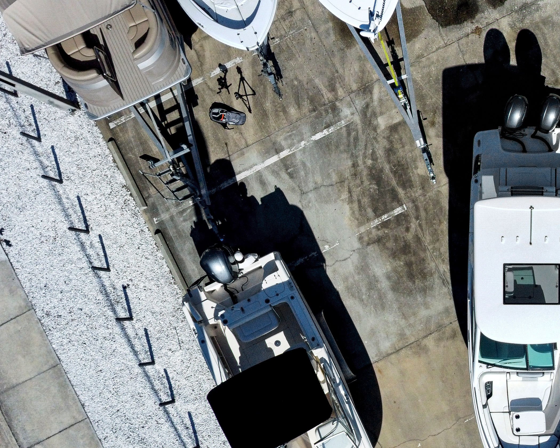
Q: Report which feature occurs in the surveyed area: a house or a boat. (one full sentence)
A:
The image shows a boat.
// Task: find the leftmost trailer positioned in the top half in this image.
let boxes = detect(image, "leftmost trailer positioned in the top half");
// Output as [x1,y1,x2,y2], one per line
[129,85,229,242]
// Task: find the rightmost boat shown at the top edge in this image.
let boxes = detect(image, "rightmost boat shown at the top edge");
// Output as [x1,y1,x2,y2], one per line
[322,0,399,42]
